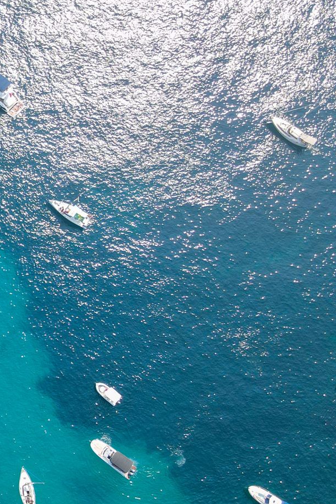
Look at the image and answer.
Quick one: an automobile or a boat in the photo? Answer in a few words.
boat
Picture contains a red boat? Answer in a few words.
No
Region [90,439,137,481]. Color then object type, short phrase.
white boat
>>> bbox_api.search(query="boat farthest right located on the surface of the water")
[269,100,328,152]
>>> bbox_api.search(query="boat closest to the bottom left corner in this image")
[18,467,40,504]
